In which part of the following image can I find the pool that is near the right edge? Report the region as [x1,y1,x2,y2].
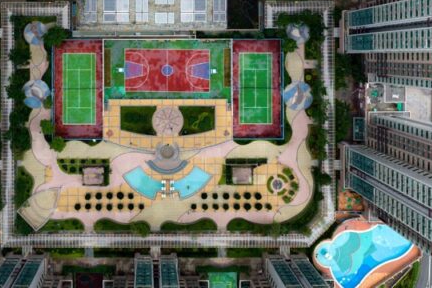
[313,211,420,288]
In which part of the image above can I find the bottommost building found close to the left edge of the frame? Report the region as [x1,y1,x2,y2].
[0,253,74,288]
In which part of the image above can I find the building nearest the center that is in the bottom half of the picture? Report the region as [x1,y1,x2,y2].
[230,165,253,186]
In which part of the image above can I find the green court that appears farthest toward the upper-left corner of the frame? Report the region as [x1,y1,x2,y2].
[52,40,103,141]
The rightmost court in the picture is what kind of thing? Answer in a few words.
tennis court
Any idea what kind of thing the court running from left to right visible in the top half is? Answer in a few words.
basketball court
